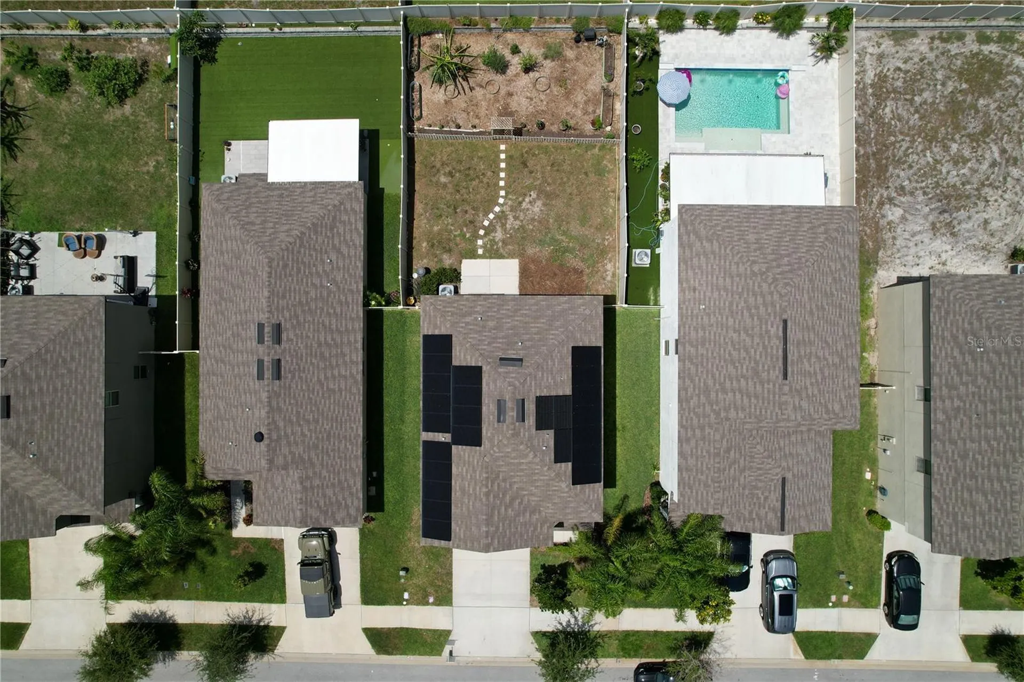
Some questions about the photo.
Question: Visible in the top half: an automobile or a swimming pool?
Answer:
swimming pool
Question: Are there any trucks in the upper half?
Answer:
No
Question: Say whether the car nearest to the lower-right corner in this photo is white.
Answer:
No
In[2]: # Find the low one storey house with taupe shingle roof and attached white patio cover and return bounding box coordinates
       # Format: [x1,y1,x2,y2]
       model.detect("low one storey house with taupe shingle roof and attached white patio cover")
[199,118,367,529]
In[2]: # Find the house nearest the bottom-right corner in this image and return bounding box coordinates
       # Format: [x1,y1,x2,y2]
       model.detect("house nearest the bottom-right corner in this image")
[877,273,1024,561]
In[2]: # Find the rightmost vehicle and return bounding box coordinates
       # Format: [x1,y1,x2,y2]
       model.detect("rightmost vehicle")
[882,549,925,629]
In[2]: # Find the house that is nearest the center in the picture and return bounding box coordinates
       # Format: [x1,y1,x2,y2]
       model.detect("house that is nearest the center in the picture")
[419,294,604,554]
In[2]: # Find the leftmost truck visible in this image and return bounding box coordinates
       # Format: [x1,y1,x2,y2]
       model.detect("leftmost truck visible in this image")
[293,528,336,616]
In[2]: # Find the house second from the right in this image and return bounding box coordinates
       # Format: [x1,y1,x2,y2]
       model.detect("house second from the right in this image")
[656,153,860,537]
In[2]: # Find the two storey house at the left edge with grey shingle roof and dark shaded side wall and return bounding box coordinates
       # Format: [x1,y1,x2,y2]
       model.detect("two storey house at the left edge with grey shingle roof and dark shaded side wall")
[0,295,154,542]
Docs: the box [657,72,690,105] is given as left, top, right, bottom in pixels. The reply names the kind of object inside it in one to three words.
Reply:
umbrella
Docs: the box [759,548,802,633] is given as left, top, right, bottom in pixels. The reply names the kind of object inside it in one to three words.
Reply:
car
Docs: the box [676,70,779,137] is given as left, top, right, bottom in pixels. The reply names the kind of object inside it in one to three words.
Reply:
swimming pool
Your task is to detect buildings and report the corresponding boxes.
[419,294,604,554]
[199,118,367,529]
[877,273,1024,561]
[656,153,860,537]
[0,295,154,542]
